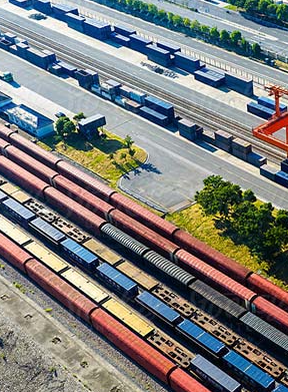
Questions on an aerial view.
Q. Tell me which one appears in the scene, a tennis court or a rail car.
rail car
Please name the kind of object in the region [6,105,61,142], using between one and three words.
house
